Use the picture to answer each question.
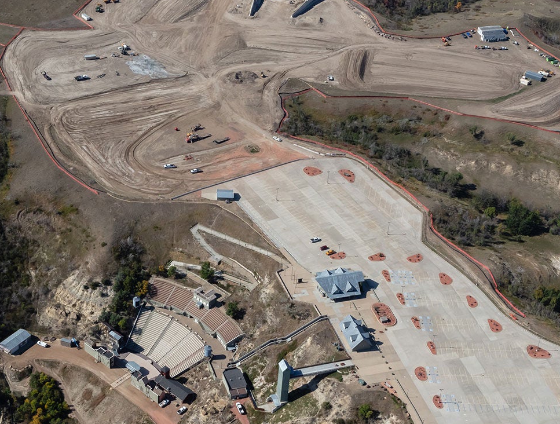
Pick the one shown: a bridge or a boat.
bridge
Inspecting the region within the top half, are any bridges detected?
No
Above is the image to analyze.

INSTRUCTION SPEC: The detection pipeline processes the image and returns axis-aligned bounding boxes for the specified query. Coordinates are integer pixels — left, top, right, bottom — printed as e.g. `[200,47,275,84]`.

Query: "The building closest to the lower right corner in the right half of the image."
[339,314,371,354]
